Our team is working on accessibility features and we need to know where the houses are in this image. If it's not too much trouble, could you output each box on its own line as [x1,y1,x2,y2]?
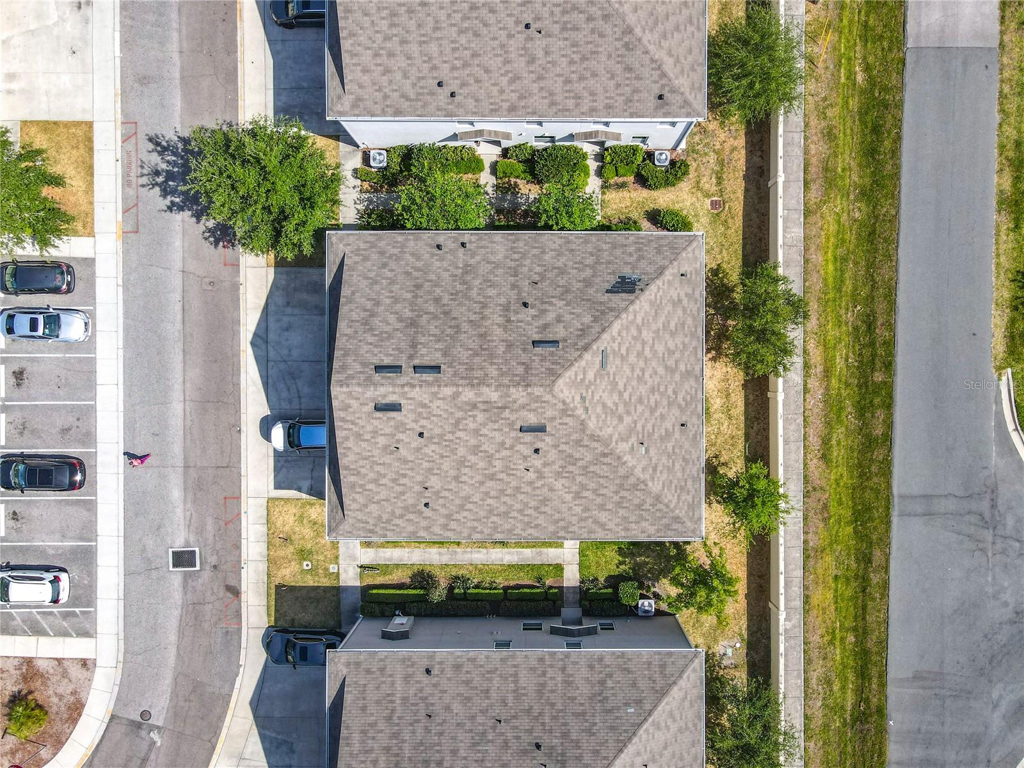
[327,232,704,541]
[327,608,704,768]
[327,0,706,155]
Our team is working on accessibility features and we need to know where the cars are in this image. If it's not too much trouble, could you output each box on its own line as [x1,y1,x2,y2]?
[0,455,86,495]
[271,0,327,27]
[0,308,92,346]
[266,628,347,668]
[272,417,327,454]
[0,568,70,609]
[0,259,75,298]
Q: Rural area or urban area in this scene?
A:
urban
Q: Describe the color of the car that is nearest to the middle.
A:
blue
